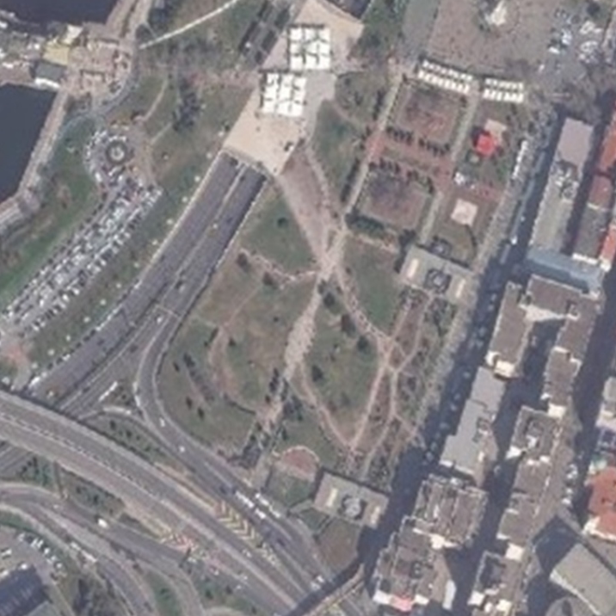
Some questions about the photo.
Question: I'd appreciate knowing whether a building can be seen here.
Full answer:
Yes, you can see a building in this photo.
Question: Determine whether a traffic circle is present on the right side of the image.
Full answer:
No, I can find no traffic circle on the right side of the image.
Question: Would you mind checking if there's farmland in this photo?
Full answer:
No, the scene doesn't show any farmland.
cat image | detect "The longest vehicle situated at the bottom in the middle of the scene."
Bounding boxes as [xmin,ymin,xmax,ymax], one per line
[233,489,256,507]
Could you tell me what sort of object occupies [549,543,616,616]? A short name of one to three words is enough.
building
